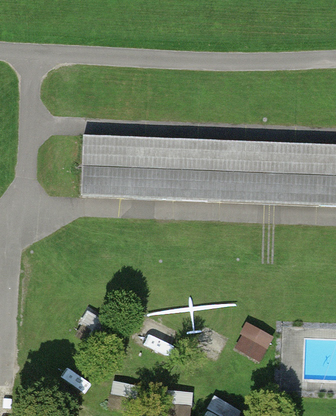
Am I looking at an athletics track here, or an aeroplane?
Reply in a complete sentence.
Looking from above, you can make out an aeroplane.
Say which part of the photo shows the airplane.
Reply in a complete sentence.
The airplane is in the bottom part of the image.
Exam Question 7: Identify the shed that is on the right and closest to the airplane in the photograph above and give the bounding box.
[232,322,273,362]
